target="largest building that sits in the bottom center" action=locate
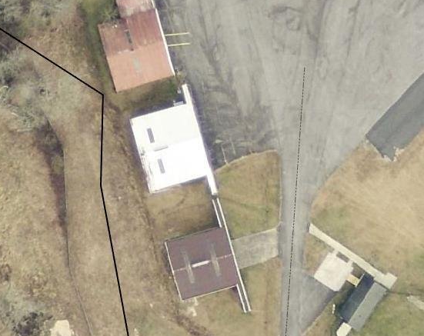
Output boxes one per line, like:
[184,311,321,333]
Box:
[165,198,246,312]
